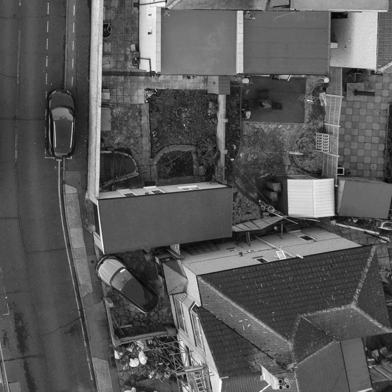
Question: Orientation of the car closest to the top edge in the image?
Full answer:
I'd say the car closest to the top edge is aligned from top to bottom in the picture.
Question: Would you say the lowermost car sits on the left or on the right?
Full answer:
The lowermost car is on the left side of the image.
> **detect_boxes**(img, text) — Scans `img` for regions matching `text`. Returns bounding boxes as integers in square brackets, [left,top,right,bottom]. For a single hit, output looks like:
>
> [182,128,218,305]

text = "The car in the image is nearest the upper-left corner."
[42,88,77,160]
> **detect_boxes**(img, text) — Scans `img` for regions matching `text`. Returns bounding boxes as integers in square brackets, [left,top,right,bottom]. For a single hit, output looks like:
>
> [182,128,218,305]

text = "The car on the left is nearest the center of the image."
[97,252,159,319]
